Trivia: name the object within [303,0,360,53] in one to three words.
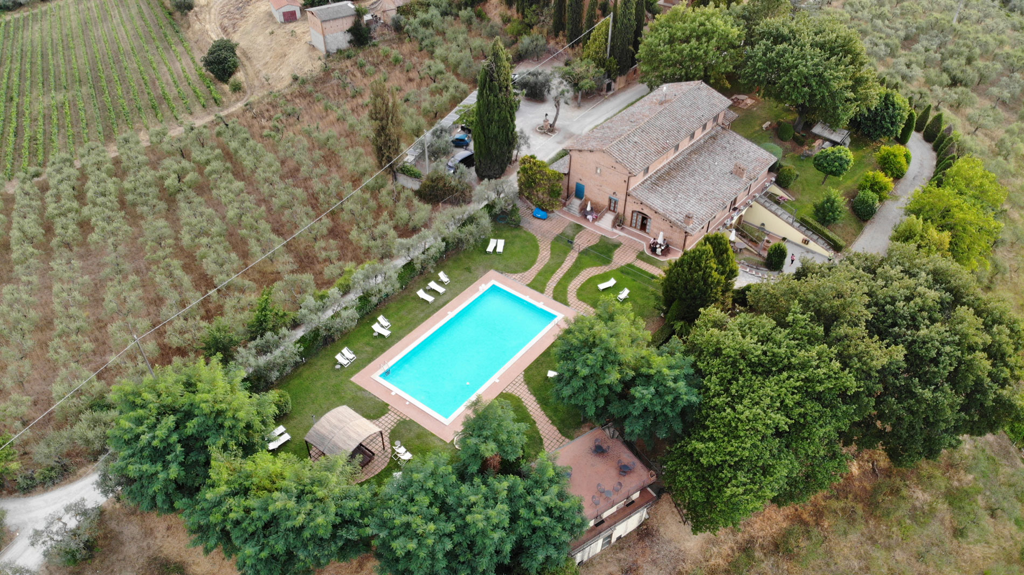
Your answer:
barn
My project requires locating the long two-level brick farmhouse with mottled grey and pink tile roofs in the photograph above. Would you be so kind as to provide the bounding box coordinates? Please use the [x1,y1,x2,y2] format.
[560,77,769,250]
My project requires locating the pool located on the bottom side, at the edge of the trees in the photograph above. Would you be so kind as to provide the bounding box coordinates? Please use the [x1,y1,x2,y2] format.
[371,279,565,425]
